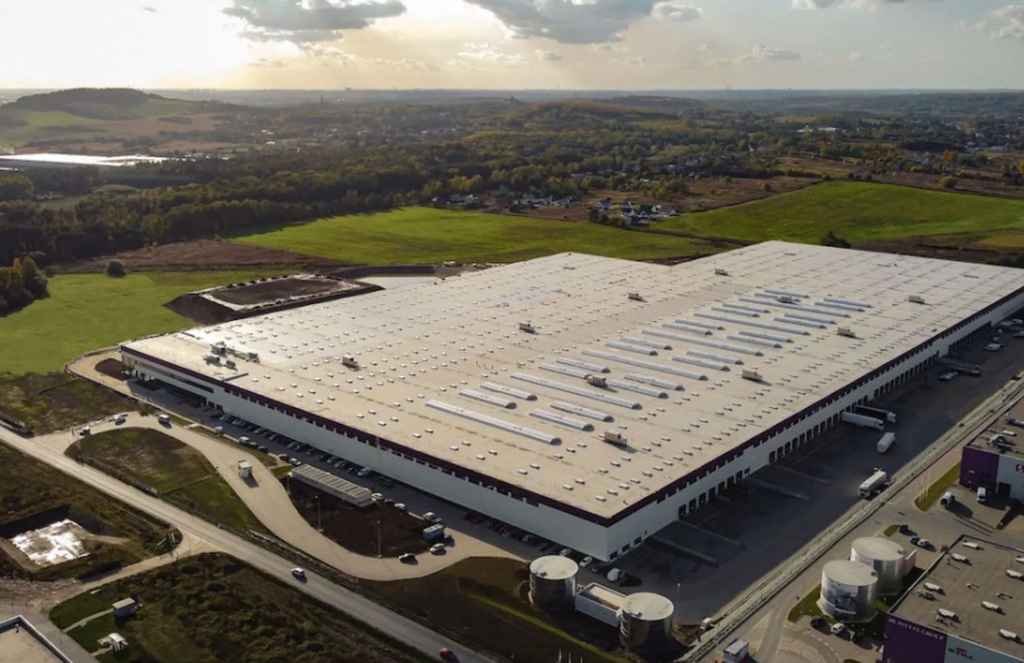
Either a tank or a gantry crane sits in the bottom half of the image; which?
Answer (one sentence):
The feature located in the bottom half of the image is a tank.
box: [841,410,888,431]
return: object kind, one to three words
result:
truck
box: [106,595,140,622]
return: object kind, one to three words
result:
shed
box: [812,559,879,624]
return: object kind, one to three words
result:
storage tank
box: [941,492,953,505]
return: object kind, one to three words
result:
vehicle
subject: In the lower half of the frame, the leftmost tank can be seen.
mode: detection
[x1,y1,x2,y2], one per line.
[526,556,578,611]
